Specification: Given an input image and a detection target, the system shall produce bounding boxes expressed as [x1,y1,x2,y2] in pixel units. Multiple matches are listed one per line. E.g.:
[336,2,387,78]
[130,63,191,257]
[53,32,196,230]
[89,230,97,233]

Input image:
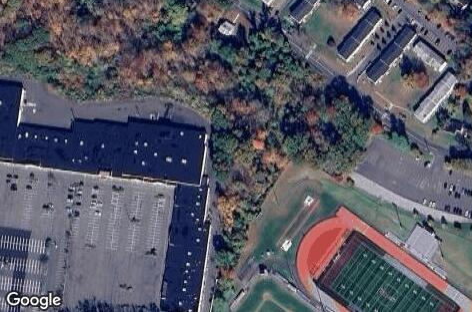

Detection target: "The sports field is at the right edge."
[314,230,455,312]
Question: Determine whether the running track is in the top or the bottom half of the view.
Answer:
bottom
